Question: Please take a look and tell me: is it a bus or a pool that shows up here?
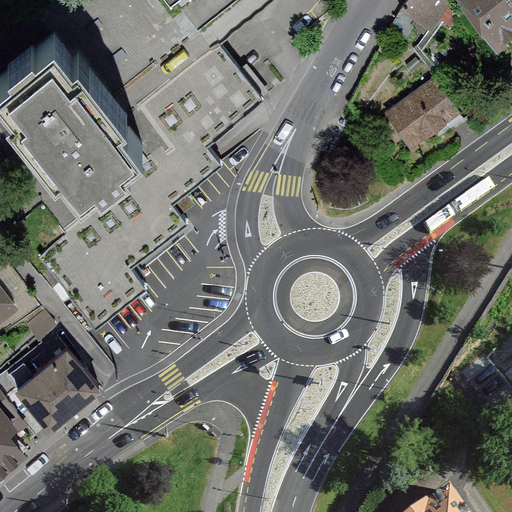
bus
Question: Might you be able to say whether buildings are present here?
Yes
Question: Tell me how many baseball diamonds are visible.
0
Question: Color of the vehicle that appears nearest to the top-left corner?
yellow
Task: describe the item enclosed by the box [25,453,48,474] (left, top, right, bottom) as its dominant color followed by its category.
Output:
white vehicle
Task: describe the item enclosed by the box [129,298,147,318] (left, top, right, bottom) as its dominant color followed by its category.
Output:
red car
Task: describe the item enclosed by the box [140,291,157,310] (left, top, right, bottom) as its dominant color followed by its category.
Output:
white car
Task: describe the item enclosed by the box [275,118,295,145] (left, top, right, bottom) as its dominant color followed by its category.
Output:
white vehicle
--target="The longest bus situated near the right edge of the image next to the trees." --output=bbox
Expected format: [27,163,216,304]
[421,175,496,232]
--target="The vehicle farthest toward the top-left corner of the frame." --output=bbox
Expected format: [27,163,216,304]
[162,50,188,72]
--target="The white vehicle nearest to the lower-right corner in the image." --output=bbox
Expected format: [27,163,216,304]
[326,329,349,346]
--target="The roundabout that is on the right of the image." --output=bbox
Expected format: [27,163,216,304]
[246,228,384,366]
